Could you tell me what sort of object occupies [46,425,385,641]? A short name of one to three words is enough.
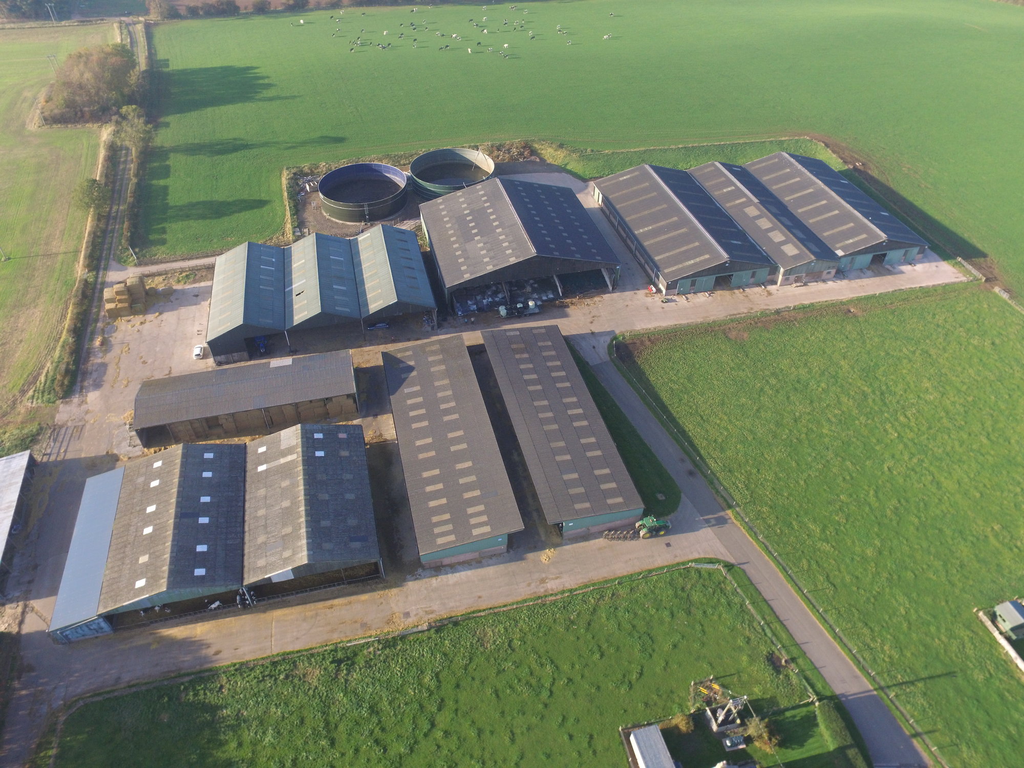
shed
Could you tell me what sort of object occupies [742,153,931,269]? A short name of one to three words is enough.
building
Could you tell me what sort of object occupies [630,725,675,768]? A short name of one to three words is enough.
shed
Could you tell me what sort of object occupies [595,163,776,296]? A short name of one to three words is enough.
building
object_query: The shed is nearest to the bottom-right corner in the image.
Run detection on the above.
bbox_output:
[988,601,1024,651]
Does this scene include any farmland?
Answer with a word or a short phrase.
Yes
